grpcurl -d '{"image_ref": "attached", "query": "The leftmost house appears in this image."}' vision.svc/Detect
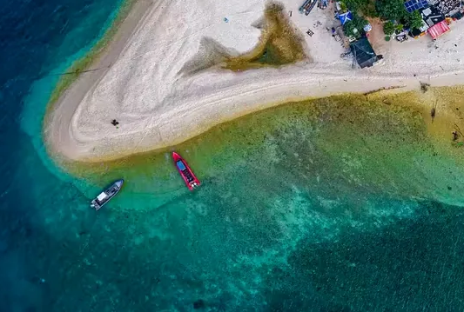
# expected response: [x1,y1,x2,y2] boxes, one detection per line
[351,38,377,64]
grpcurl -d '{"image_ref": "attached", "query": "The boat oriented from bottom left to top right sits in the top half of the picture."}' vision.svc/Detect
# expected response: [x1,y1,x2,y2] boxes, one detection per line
[297,0,315,15]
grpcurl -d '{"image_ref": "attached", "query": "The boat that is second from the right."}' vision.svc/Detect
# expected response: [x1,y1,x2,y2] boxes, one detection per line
[171,151,200,195]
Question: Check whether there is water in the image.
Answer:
Yes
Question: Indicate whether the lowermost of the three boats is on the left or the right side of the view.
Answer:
left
